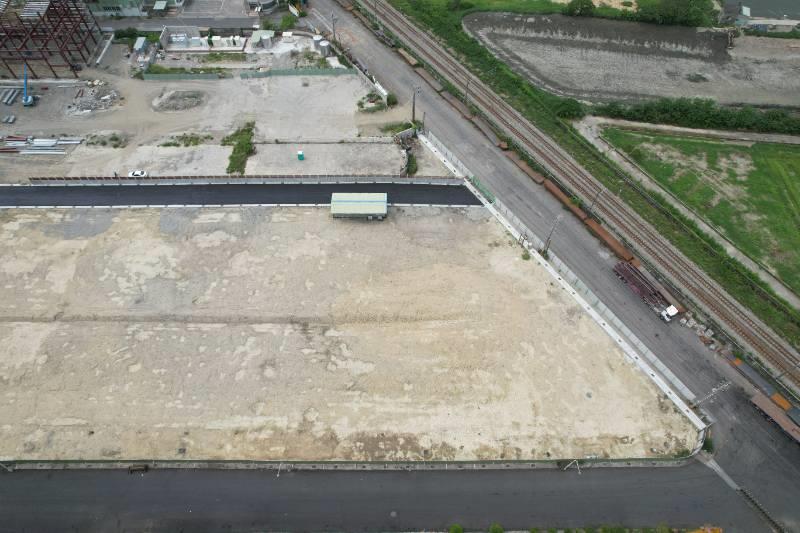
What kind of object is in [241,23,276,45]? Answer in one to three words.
shed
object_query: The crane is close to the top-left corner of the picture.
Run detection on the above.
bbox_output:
[17,63,46,110]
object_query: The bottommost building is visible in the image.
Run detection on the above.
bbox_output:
[329,190,389,221]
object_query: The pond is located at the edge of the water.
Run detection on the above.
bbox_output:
[462,13,800,116]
